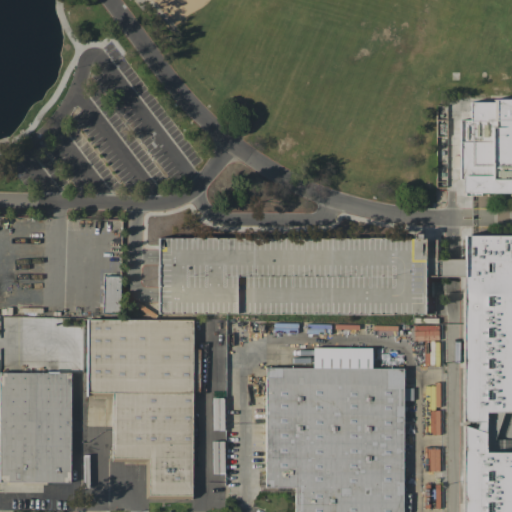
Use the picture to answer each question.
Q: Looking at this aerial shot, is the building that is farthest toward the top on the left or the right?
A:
right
